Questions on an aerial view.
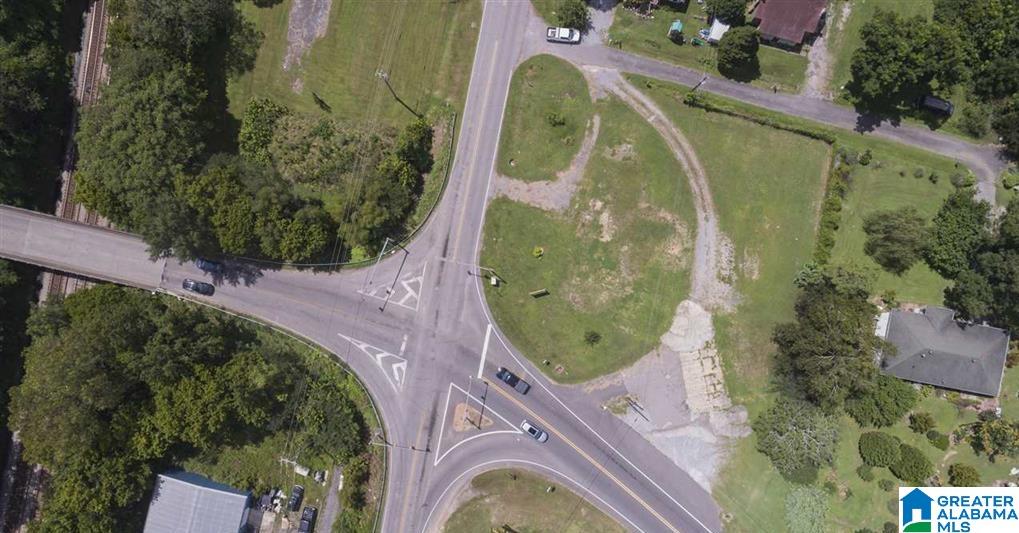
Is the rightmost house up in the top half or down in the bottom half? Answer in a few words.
bottom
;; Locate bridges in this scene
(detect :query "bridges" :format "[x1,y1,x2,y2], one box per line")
[0,203,165,293]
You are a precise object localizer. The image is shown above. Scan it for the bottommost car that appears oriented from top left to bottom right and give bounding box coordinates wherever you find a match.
[519,418,549,442]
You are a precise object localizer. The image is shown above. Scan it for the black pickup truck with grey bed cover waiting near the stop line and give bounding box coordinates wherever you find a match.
[497,366,531,395]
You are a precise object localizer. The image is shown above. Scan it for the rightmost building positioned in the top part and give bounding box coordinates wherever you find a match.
[757,0,828,57]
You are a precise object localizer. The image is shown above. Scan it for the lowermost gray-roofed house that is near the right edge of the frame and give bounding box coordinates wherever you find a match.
[877,306,1010,397]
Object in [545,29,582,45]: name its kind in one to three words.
vehicle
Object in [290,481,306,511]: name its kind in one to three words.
car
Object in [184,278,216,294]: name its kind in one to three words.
car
